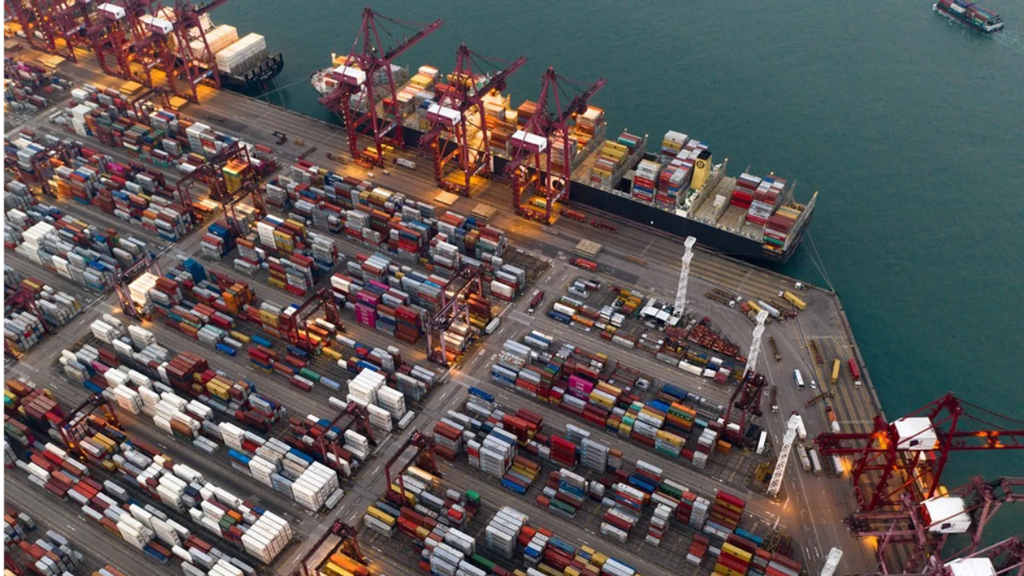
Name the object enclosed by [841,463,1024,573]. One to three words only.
container crane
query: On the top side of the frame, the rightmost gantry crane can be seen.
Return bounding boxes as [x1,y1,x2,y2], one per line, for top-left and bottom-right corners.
[492,60,605,225]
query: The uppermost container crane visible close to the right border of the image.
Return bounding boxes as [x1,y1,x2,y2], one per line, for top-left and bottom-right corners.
[814,382,1024,516]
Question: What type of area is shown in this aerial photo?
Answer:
port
